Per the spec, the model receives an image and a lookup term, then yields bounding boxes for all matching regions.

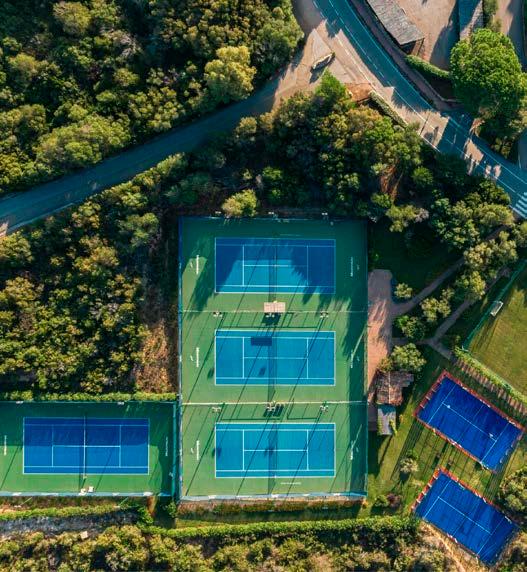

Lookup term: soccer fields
[466,260,527,394]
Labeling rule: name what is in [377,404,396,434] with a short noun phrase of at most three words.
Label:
shed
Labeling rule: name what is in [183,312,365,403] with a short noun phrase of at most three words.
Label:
tennis court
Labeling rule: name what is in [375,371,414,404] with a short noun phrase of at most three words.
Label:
house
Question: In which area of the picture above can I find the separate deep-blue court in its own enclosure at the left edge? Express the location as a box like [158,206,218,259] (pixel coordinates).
[0,406,177,488]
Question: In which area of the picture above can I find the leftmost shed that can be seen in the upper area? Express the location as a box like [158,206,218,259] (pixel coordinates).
[363,0,426,55]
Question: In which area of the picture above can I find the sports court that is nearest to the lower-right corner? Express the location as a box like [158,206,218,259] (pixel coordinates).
[412,469,526,572]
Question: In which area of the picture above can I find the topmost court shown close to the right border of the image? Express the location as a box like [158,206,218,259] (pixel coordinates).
[416,374,527,475]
